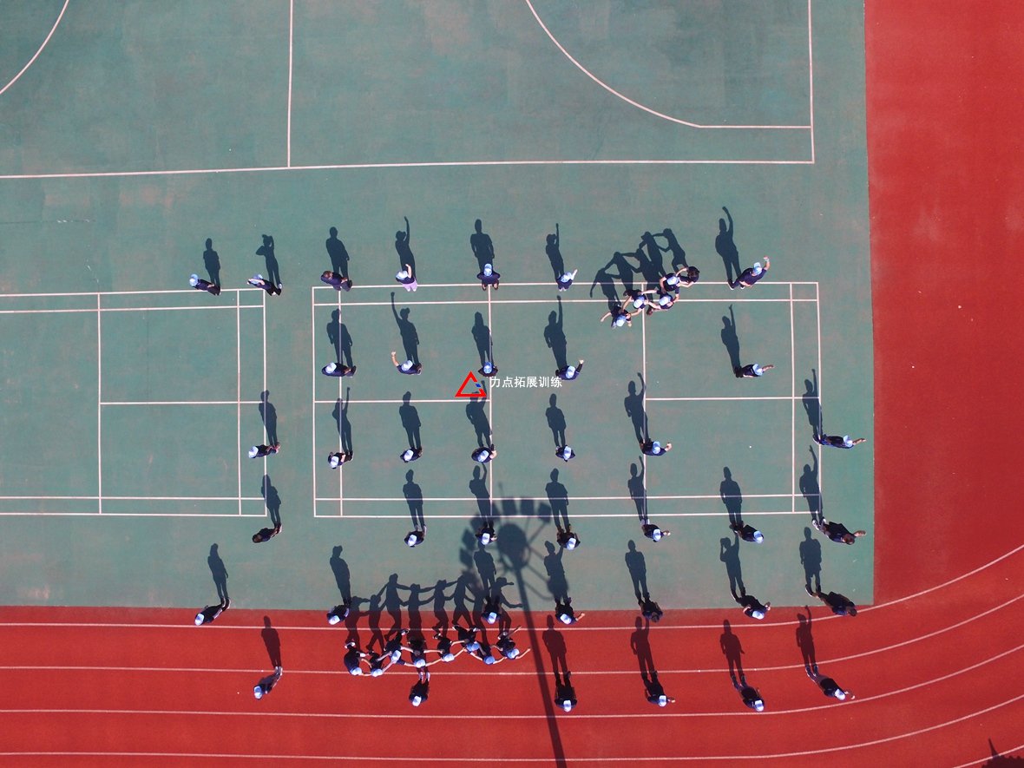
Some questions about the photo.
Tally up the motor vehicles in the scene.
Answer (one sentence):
There are no motor vehicles in the image.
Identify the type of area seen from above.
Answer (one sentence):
What you see here is a sports ground.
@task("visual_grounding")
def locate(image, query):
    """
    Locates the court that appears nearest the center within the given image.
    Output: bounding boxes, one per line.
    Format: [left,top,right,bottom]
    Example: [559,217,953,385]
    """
[312,281,822,518]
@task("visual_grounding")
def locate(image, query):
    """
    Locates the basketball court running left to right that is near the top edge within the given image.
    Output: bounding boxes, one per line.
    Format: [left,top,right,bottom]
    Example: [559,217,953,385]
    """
[0,0,815,179]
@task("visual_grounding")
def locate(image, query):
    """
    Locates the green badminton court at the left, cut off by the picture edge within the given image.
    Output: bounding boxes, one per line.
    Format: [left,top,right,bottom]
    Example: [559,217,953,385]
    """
[0,288,267,517]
